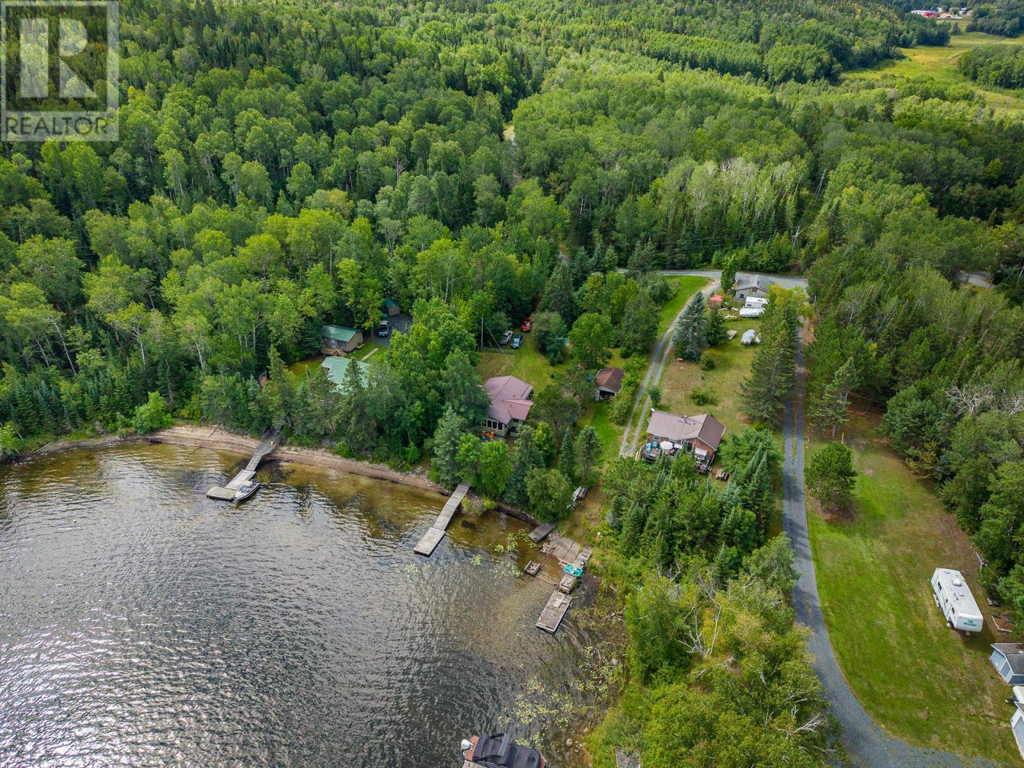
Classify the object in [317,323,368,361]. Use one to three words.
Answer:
building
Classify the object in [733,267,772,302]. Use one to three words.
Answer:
building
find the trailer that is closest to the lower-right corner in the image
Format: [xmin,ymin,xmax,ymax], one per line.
[929,567,981,635]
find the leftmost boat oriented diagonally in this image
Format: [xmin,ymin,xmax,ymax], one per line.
[234,476,268,503]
